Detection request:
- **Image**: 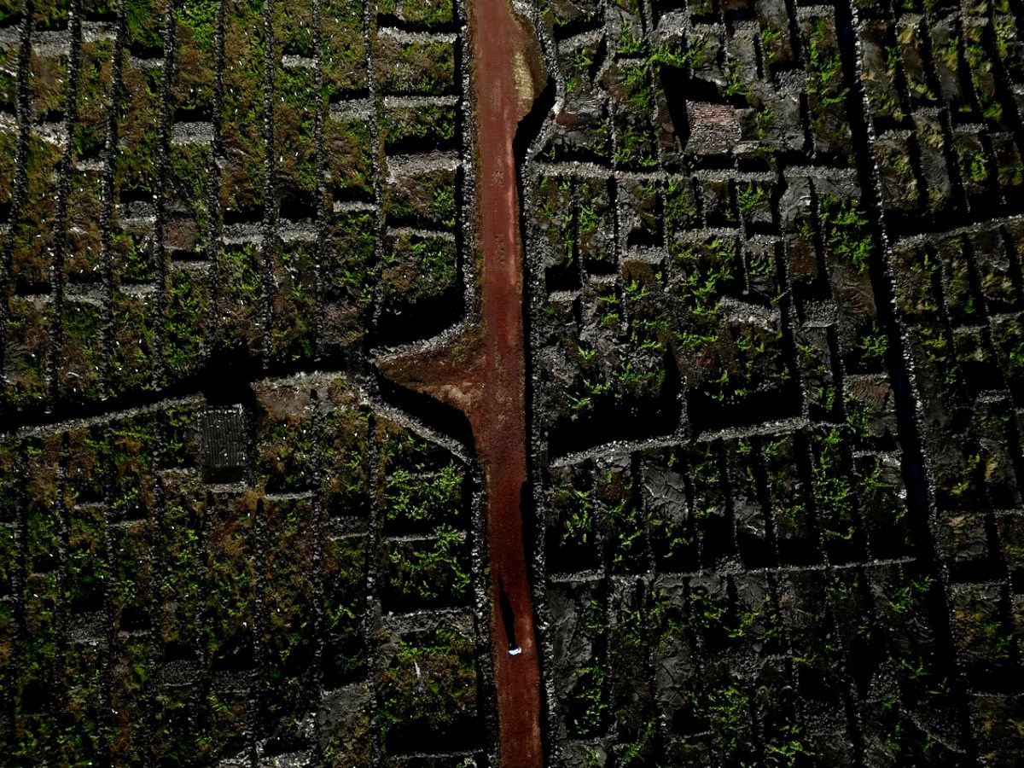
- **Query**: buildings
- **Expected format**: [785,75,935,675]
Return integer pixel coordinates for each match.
[670,98,759,158]
[198,401,264,492]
